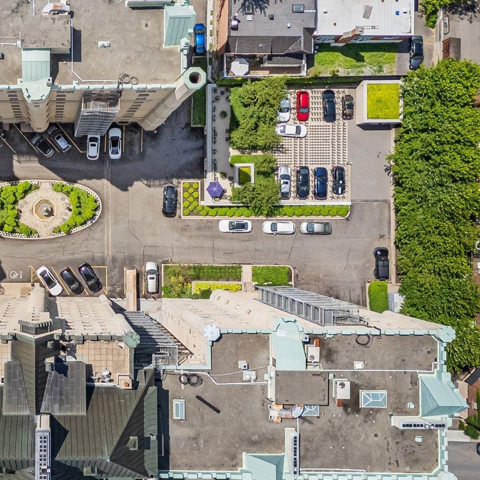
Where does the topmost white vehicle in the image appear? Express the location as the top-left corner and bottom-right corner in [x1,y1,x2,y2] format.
[276,92,292,121]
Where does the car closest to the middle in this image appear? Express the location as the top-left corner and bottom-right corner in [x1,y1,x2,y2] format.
[218,219,251,234]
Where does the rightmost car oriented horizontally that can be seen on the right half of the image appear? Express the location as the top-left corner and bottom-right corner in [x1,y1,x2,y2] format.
[299,222,332,236]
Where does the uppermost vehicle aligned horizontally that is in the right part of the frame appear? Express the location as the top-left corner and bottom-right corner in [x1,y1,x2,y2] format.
[274,122,307,138]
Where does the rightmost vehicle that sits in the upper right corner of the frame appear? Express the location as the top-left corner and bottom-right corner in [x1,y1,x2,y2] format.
[407,38,425,71]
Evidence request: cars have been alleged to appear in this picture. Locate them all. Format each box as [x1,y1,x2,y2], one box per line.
[144,261,159,294]
[373,248,389,280]
[218,219,251,234]
[276,92,292,121]
[86,133,101,162]
[313,167,329,199]
[35,264,64,298]
[107,127,122,160]
[295,167,311,199]
[331,166,345,195]
[276,167,292,199]
[294,91,311,122]
[162,186,178,218]
[299,222,332,236]
[274,122,307,138]
[321,91,336,122]
[407,38,425,71]
[341,95,354,120]
[29,131,55,161]
[58,266,84,298]
[46,121,72,153]
[261,221,295,235]
[76,262,102,294]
